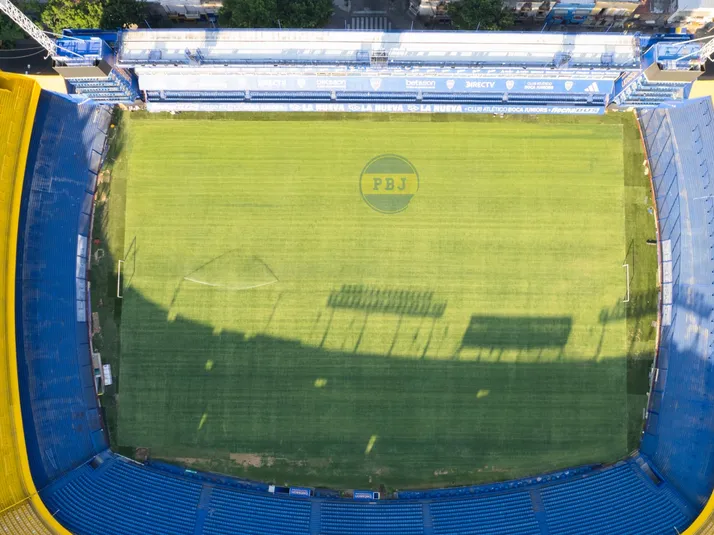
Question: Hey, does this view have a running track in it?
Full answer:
No, I can see no running track in this picture.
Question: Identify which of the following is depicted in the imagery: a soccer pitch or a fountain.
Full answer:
Visible in the photo is a soccer pitch.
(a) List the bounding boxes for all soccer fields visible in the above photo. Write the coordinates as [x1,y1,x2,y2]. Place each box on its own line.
[91,105,658,488]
